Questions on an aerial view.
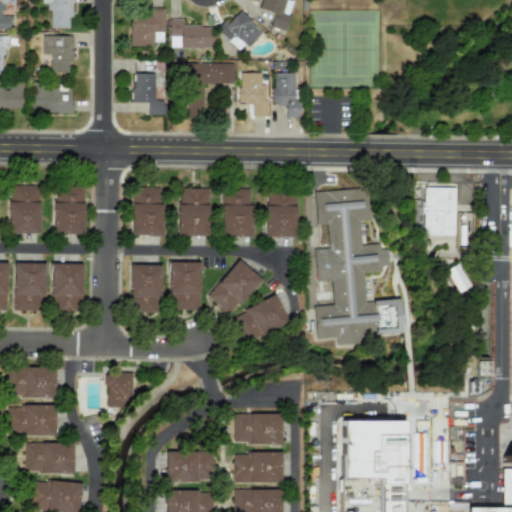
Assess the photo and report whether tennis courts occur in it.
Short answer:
Yes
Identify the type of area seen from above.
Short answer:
residential area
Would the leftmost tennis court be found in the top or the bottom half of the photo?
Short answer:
top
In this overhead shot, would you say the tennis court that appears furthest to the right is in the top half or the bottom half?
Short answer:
top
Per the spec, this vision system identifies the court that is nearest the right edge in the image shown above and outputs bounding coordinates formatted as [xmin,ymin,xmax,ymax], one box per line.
[345,10,380,88]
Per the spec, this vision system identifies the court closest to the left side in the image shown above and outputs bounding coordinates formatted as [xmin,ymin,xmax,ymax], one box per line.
[310,10,345,88]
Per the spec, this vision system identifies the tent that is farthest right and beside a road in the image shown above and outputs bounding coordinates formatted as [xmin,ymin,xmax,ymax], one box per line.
[434,441,448,466]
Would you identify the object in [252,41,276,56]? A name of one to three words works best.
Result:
swimming pool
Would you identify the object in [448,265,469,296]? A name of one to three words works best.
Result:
shed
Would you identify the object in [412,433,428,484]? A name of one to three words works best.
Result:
tent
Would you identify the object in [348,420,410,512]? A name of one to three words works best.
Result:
building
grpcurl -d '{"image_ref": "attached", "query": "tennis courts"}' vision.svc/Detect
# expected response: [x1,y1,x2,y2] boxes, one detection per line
[310,10,345,88]
[345,10,380,88]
